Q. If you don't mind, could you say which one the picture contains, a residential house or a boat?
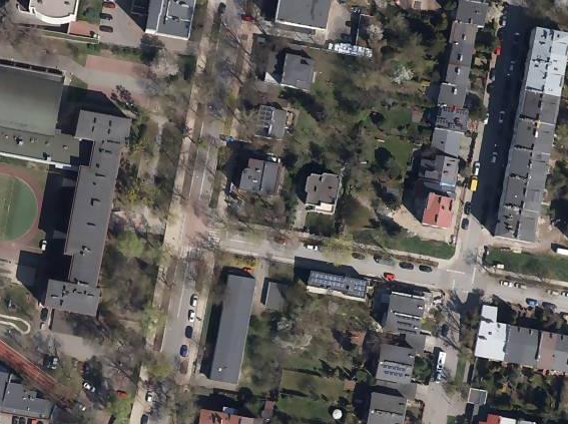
residential house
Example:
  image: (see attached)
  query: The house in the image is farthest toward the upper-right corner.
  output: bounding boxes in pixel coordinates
[527,28,568,67]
